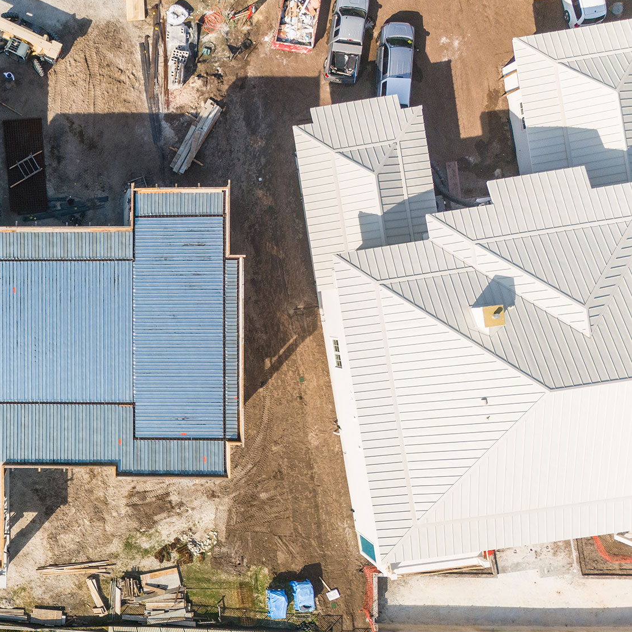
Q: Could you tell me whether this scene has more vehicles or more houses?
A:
vehicles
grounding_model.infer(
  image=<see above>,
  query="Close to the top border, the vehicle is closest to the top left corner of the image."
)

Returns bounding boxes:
[0,3,67,78]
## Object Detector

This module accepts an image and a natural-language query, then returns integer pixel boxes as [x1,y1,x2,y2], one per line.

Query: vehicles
[373,24,419,108]
[558,0,610,29]
[321,0,375,90]
[0,3,67,78]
